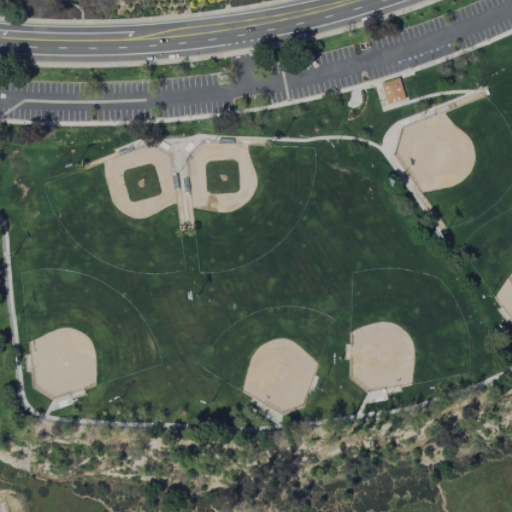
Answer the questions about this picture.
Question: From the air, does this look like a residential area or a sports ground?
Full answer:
It's a sports ground.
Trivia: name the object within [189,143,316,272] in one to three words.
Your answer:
baseball field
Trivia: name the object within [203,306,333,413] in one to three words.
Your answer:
baseball field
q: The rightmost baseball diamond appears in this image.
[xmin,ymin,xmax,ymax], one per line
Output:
[467,210,512,320]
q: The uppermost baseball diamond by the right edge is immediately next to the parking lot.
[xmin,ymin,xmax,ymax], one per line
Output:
[396,97,512,228]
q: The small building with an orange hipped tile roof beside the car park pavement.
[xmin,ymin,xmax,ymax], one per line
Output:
[384,77,406,104]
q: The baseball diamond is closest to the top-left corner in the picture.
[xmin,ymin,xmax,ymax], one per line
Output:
[46,148,185,274]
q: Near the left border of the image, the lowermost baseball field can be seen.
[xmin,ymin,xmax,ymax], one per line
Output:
[23,268,161,399]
